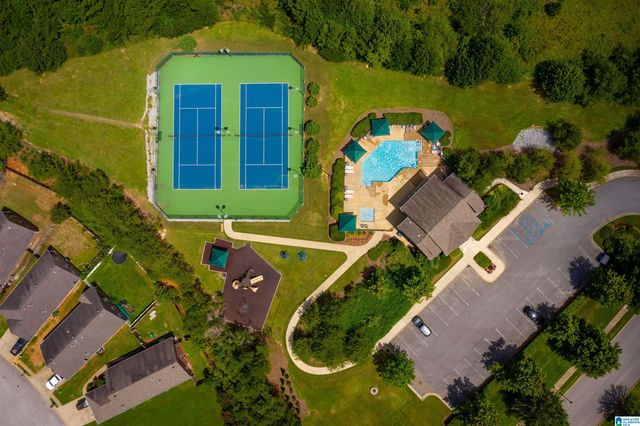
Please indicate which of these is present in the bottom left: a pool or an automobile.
automobile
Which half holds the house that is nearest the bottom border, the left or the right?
left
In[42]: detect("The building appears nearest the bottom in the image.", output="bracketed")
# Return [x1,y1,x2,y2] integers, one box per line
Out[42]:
[84,334,194,422]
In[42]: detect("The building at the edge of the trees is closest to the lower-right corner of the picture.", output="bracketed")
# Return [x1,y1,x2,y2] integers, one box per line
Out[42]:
[397,171,486,260]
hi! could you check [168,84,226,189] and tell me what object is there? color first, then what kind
blue tennis court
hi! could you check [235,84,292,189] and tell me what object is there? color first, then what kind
blue tennis court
